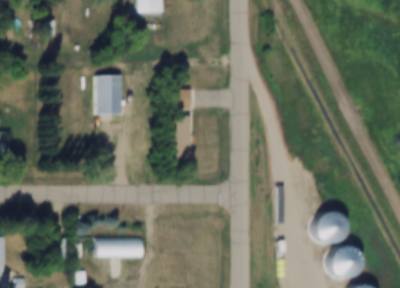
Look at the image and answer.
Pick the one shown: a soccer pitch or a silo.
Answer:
silo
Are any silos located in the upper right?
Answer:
No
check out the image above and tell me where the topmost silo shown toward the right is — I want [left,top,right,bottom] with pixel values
[308,209,349,246]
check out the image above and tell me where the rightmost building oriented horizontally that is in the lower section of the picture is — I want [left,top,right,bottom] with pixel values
[92,238,145,262]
